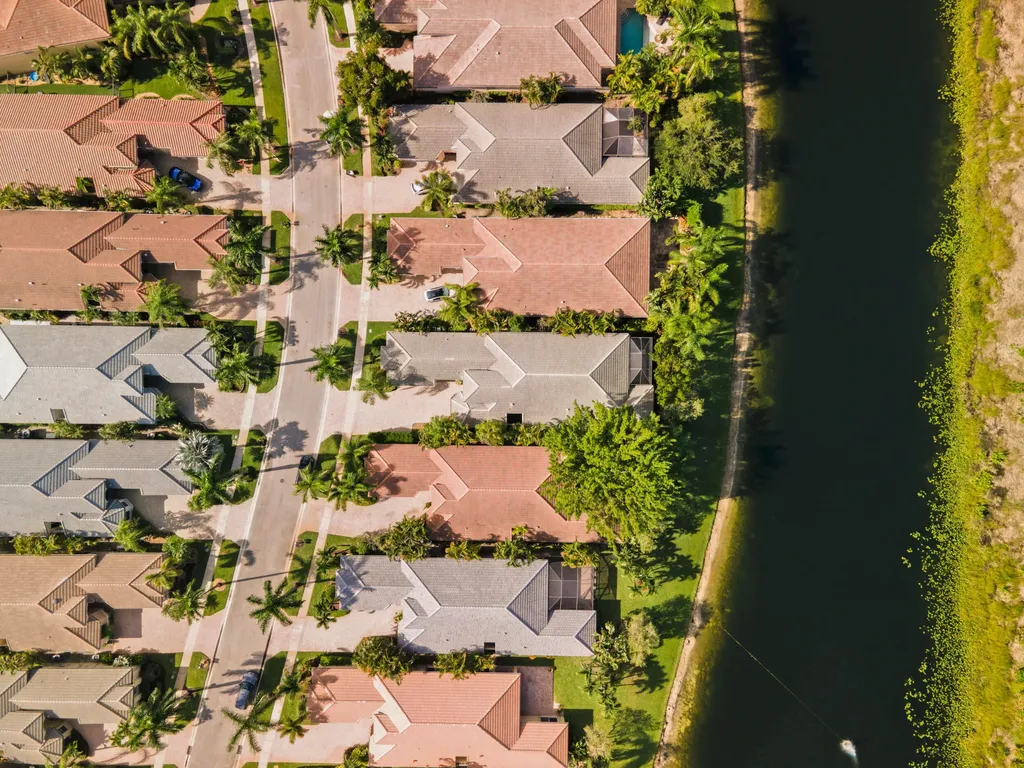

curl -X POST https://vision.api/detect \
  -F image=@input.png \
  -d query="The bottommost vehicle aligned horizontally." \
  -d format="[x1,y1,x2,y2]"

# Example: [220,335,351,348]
[422,283,455,300]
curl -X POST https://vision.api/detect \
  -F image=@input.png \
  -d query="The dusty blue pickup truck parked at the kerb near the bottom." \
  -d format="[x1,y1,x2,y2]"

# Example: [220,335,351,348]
[232,672,257,712]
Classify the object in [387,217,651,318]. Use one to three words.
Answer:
house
